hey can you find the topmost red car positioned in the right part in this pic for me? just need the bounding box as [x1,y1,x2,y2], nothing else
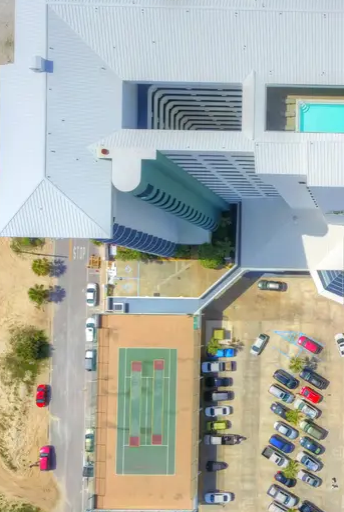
[296,334,322,353]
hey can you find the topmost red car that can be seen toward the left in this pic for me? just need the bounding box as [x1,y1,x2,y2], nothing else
[36,382,49,407]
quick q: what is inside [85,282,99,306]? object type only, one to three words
vehicle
